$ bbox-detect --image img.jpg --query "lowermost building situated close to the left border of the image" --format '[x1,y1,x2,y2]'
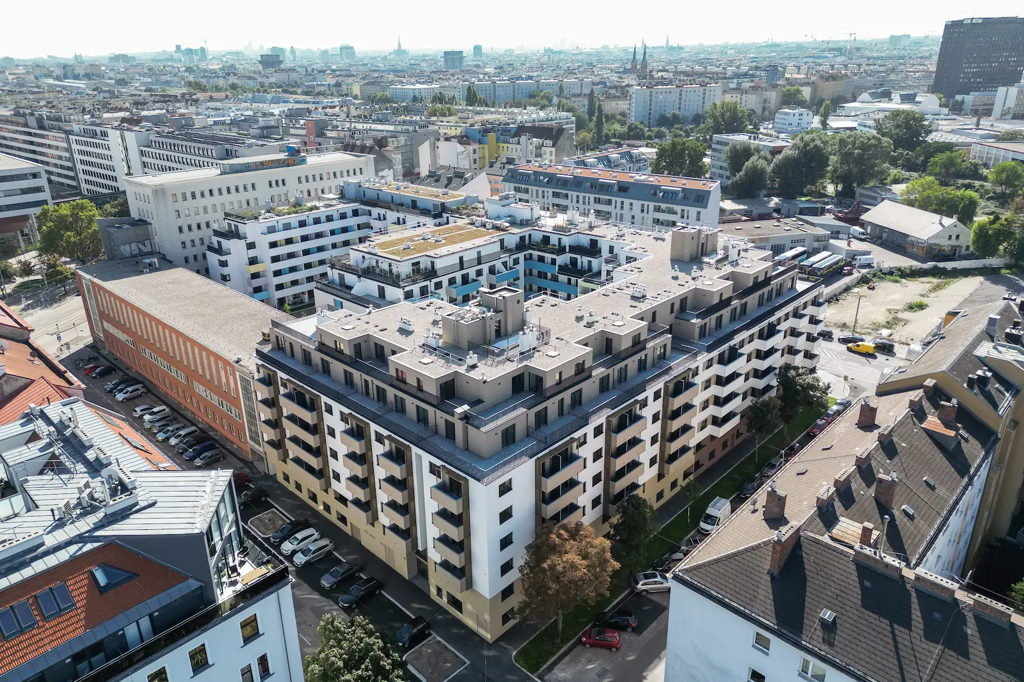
[0,395,309,682]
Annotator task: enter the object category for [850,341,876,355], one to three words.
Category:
vehicle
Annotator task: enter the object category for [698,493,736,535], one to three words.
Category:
vehicle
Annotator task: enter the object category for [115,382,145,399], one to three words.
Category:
car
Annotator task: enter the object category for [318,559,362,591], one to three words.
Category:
car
